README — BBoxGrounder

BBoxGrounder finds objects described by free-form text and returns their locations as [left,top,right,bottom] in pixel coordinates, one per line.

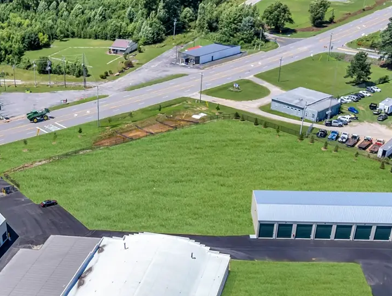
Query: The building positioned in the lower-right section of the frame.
[248,195,392,243]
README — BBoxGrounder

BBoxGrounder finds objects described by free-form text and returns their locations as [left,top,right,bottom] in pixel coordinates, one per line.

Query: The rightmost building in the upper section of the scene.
[271,85,343,121]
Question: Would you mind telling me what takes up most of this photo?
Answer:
grass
